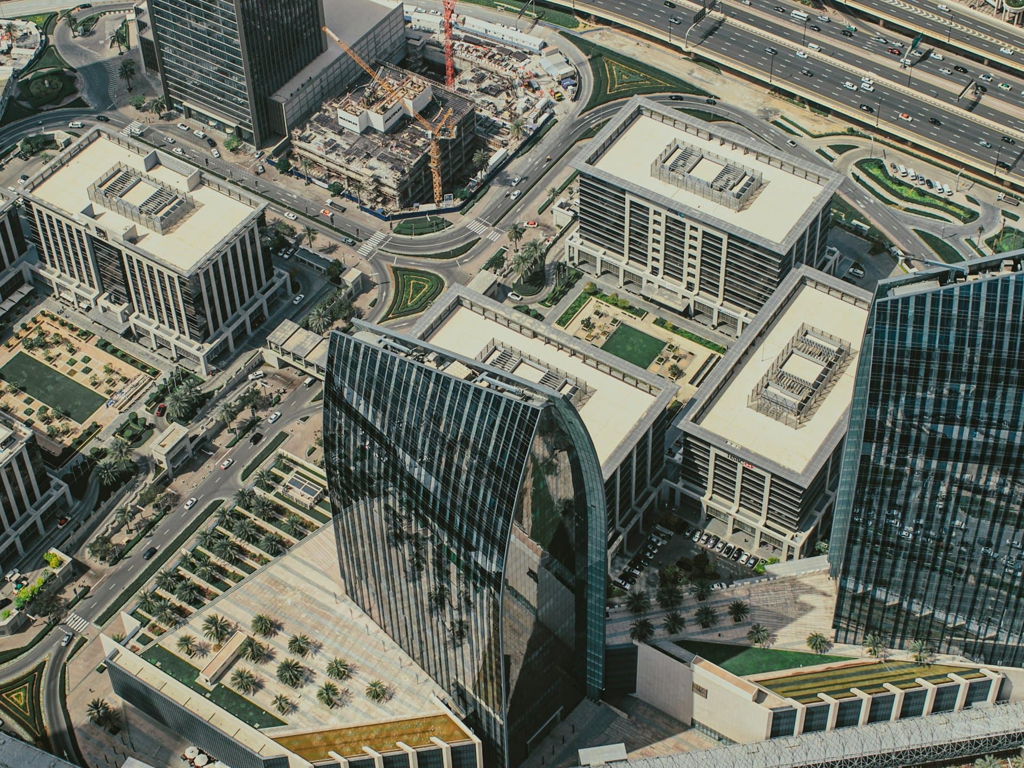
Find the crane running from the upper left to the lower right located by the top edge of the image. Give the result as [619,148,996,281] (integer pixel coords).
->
[323,26,462,209]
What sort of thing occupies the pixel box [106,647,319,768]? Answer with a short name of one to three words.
building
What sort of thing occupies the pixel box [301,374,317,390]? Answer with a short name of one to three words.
vehicle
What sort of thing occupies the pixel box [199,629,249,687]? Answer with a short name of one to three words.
house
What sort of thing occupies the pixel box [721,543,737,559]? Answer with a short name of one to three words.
car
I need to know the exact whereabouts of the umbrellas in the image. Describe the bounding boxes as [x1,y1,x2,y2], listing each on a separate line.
[213,759,229,768]
[193,754,209,768]
[184,746,200,760]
